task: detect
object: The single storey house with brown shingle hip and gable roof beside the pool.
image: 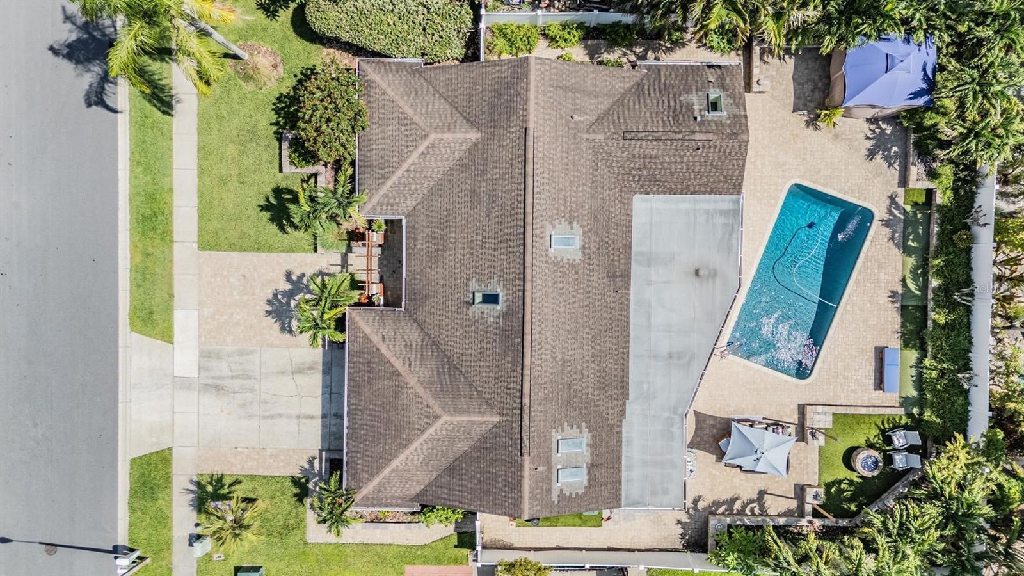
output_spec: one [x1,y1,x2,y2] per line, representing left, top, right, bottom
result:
[342,56,750,520]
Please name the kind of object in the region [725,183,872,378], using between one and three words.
swimming pool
